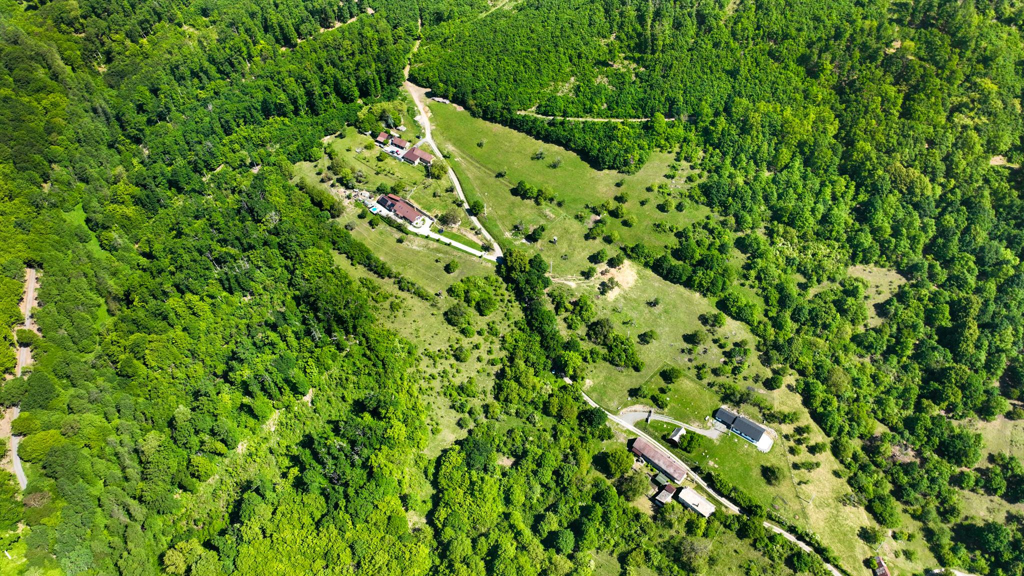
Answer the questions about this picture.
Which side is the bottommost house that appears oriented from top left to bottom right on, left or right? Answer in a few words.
right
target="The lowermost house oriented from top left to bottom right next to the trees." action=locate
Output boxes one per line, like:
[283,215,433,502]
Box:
[679,487,714,520]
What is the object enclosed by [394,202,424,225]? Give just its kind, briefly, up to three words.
building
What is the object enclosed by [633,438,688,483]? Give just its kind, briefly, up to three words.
house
